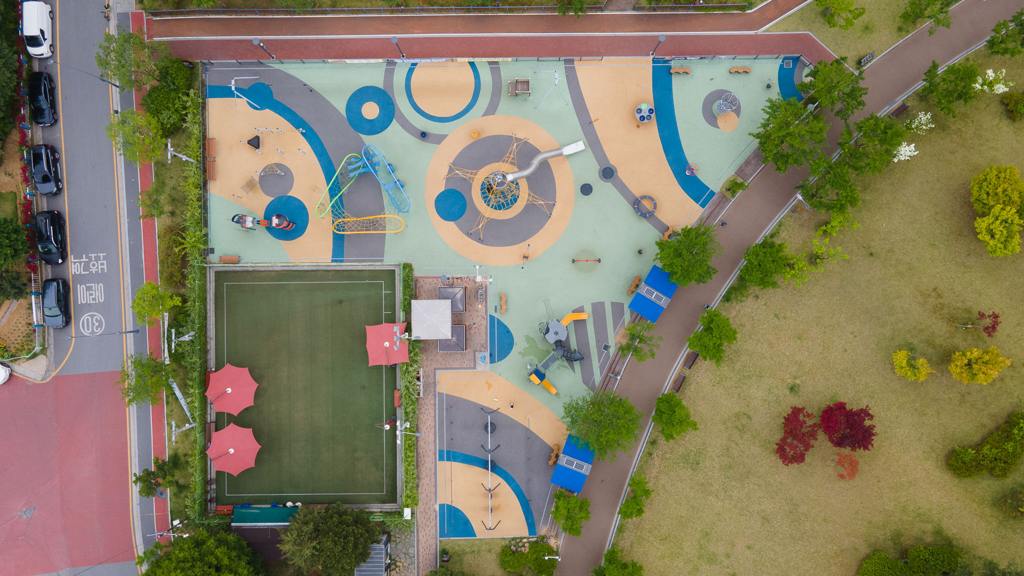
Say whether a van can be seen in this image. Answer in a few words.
Yes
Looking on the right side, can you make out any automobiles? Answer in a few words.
No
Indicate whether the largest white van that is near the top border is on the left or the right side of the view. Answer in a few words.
left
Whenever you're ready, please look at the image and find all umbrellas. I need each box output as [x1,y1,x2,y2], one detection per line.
[366,322,409,368]
[203,423,262,476]
[201,363,259,416]
[375,416,397,430]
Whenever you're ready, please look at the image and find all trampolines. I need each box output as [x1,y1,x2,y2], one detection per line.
[602,166,615,179]
[580,183,593,196]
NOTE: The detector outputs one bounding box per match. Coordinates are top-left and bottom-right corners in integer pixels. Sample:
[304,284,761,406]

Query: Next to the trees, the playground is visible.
[206,57,815,539]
